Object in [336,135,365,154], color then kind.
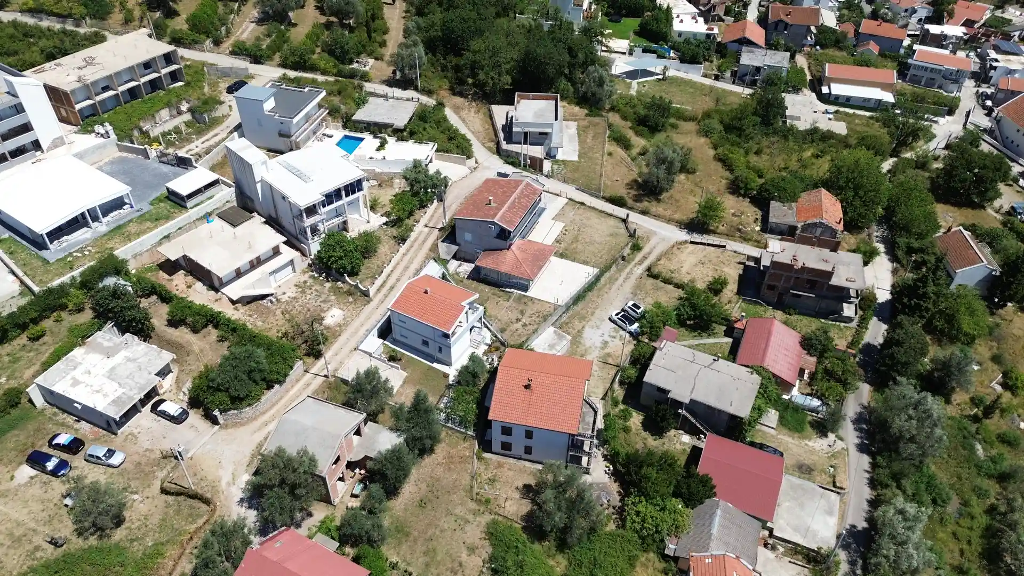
blue swimming pool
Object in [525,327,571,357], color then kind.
white water tank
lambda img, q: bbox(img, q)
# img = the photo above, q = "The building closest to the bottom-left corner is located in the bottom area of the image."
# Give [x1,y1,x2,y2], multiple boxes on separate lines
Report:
[24,331,181,440]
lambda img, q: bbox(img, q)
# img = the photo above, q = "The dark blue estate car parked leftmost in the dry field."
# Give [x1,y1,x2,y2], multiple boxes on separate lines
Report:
[27,450,70,476]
